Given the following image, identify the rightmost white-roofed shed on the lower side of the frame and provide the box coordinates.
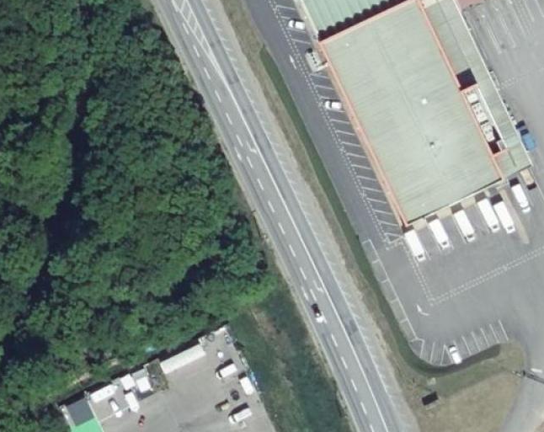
[160,345,206,373]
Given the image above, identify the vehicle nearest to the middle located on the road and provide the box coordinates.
[311,302,325,322]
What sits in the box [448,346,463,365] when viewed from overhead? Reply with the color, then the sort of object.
white car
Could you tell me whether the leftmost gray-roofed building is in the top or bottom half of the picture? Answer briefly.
bottom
